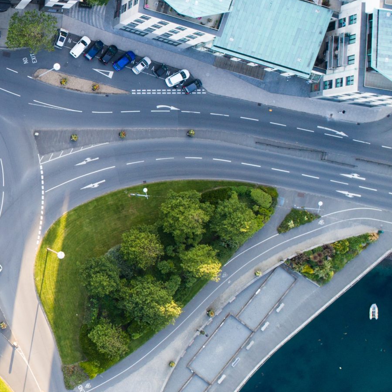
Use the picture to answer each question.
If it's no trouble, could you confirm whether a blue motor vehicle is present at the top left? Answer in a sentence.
Yes, a blue motor vehicle can be seen at the top left.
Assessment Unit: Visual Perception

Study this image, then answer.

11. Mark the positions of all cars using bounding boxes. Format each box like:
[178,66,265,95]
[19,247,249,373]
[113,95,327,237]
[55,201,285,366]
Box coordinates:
[180,76,202,96]
[111,49,135,73]
[164,66,191,91]
[84,39,104,61]
[150,61,169,82]
[68,35,92,60]
[52,27,68,50]
[131,55,152,76]
[97,44,118,66]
